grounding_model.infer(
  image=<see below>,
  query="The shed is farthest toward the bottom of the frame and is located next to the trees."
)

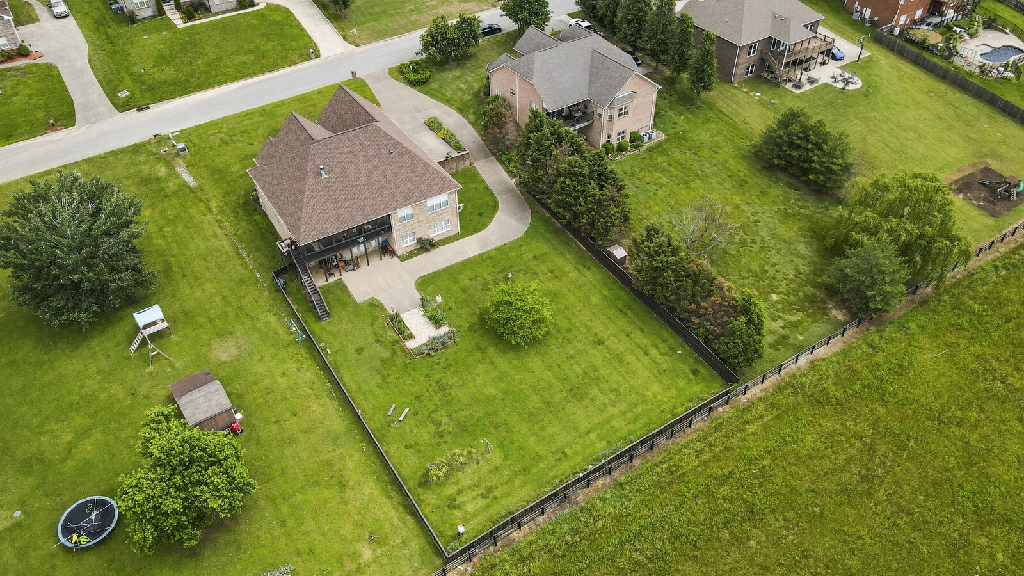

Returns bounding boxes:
[171,369,234,434]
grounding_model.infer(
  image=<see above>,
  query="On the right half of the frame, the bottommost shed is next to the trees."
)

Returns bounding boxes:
[607,243,631,267]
